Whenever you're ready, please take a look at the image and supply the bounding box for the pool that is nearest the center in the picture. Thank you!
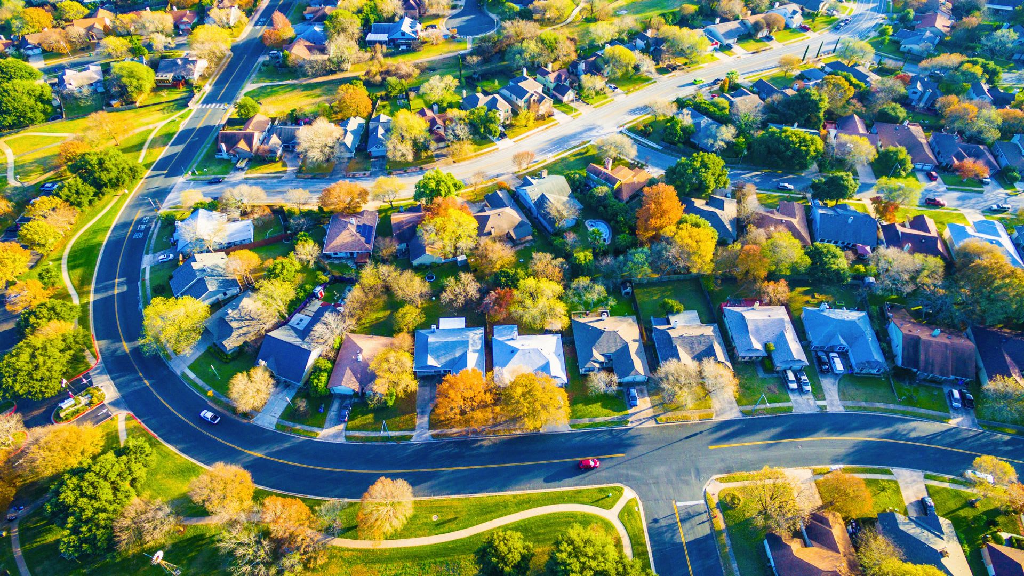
[586,220,611,244]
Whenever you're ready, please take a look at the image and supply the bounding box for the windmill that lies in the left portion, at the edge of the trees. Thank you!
[144,547,186,576]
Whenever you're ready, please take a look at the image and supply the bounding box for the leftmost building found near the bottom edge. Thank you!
[759,512,863,576]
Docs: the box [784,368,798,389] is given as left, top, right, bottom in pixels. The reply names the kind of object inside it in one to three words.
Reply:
vehicle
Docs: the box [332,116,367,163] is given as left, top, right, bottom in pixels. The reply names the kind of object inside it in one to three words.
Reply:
house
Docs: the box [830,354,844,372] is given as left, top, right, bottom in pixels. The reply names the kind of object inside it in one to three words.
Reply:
car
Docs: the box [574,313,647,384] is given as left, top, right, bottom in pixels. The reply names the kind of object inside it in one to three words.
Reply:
house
